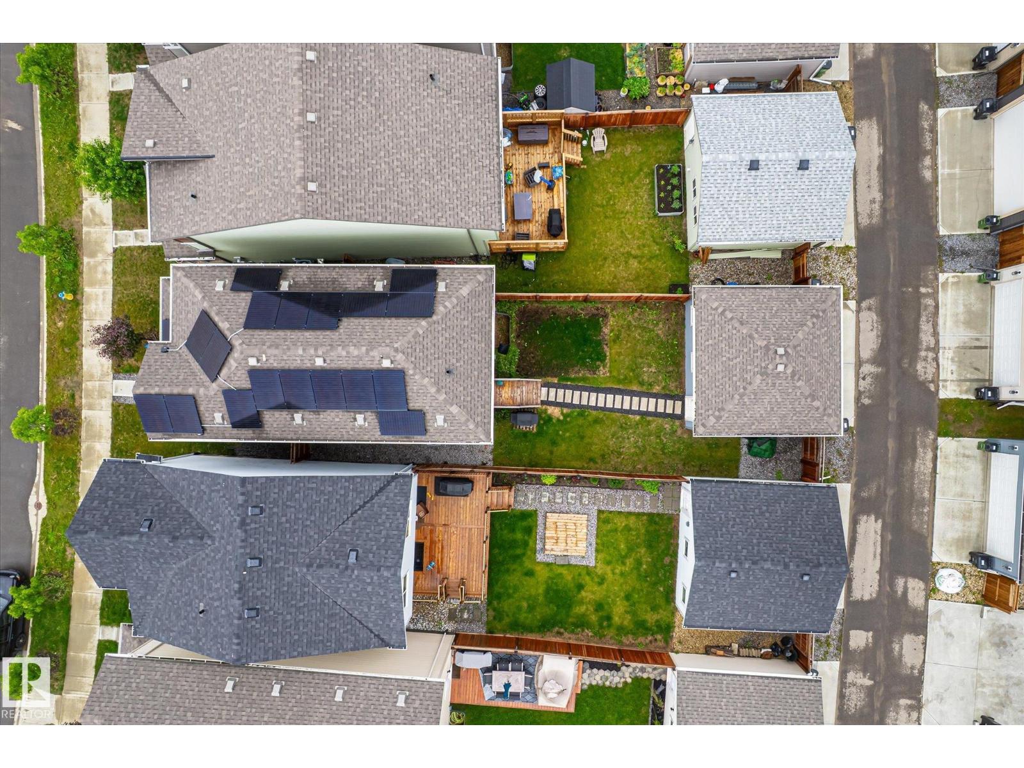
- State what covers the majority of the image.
buildings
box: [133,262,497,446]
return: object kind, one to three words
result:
house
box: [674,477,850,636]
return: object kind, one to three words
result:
building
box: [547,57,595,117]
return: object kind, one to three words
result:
shed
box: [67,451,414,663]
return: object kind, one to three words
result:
house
